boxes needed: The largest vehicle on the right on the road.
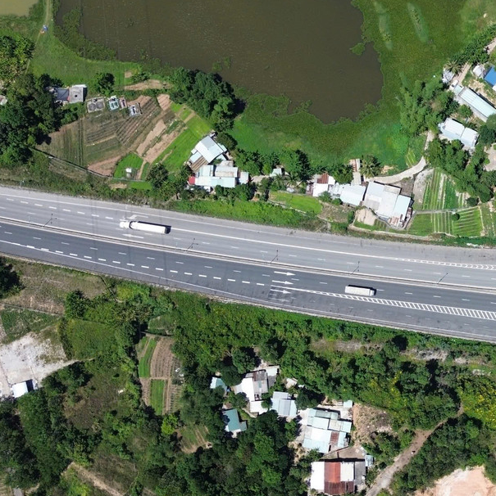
[345,286,375,298]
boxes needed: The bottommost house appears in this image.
[310,455,374,495]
